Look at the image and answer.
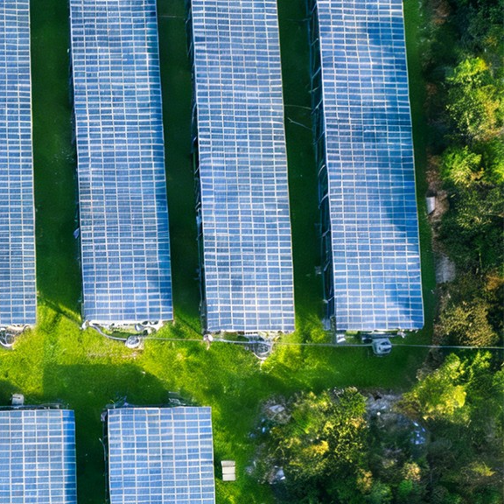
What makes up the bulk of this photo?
buildings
